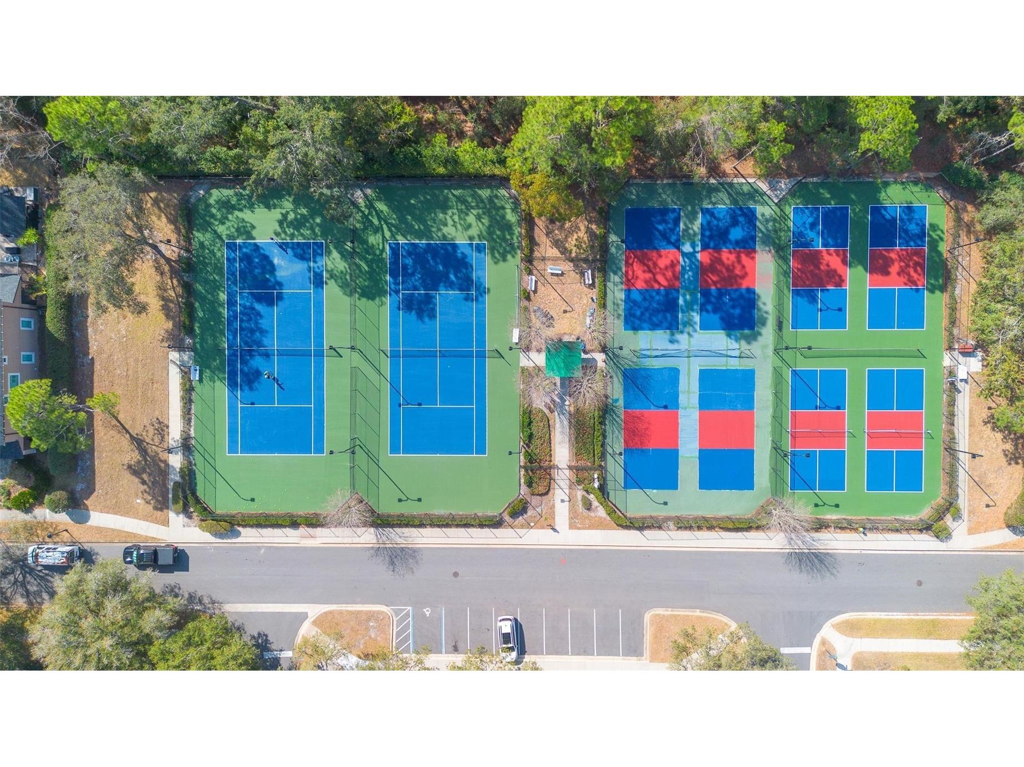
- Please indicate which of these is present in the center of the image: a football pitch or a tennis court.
tennis court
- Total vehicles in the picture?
three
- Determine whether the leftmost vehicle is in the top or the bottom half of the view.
bottom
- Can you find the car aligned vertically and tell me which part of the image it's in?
bottom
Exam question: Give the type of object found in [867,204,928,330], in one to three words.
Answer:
sports court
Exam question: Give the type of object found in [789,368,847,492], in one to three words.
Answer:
sports court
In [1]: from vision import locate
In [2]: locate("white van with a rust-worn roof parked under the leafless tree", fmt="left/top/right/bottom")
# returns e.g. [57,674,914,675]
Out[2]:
[32,543,83,565]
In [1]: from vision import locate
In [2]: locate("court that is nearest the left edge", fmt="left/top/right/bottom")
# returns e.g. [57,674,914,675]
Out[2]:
[193,187,358,514]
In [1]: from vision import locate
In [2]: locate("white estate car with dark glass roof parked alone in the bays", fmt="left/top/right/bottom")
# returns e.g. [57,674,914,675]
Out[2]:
[498,616,518,660]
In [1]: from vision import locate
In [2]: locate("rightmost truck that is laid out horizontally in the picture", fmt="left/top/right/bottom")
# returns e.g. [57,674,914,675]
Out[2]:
[125,543,180,566]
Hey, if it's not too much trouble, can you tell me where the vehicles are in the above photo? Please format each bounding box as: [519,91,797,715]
[32,543,83,565]
[498,616,518,660]
[125,543,180,566]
